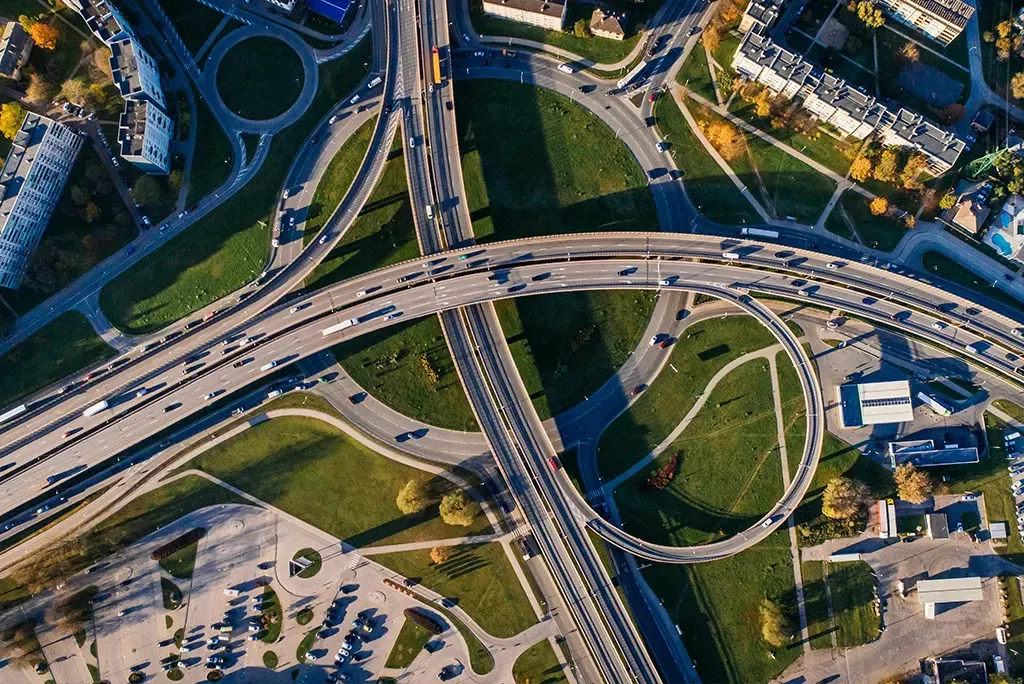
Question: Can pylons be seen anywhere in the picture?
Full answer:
Yes, a pylon appears in the view.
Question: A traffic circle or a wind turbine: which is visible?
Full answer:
The image shows a traffic circle.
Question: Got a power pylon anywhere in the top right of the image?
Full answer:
Yes, a power pylon appears in the top right of the image.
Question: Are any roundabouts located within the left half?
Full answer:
Yes, you'll find a roundabout within the left half.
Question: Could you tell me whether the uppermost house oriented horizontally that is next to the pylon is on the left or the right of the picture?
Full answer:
The uppermost house oriented horizontally that is next to the pylon sits on the right side.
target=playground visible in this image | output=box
[815,18,848,52]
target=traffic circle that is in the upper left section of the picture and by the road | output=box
[202,21,316,135]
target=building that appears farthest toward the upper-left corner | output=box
[0,22,42,83]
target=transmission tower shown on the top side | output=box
[967,27,1014,171]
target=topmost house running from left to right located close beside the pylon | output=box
[867,0,976,46]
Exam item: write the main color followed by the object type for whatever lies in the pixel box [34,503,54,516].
blue vehicle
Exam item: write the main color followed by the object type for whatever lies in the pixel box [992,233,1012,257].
blue swimming pool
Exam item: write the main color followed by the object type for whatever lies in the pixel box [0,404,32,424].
white vehicle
